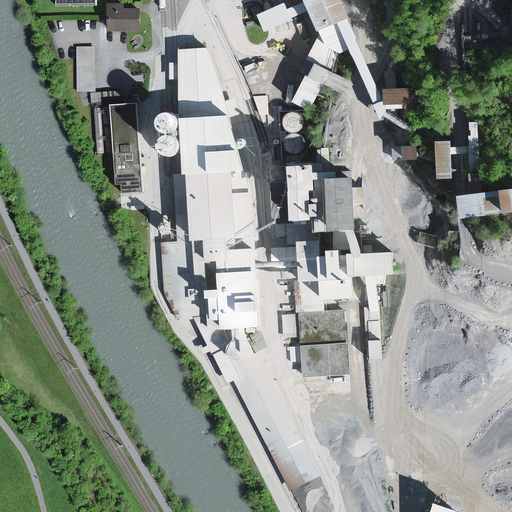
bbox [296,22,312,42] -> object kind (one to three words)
vehicle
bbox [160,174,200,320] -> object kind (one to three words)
shed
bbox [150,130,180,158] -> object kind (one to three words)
silo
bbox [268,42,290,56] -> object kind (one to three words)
work vehicle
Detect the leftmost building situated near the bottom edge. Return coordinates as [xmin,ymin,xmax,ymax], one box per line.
[230,364,320,491]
